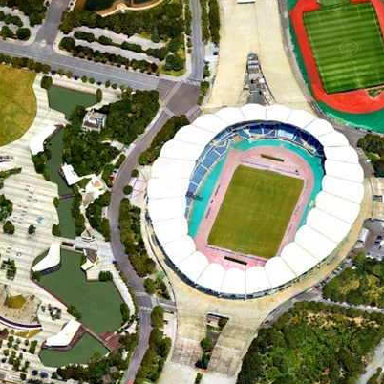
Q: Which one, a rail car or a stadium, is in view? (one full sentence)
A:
Looking from above, you can make out a stadium.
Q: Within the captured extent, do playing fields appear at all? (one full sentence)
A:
Yes, looking at the shot, I can spot a playing field.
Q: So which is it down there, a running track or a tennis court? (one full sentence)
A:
Looking from above, you can make out a running track.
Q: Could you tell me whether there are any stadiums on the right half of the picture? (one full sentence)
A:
Yes, you'll find a stadium on the right half of the picture.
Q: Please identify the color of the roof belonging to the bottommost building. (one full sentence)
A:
The color of the roof on the bottommost building is white.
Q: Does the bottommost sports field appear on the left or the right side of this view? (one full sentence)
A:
The bottommost sports field appears in the right half of the scene.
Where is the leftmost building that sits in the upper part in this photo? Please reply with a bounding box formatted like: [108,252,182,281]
[30,124,63,155]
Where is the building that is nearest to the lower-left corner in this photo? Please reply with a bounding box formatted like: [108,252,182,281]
[41,319,85,351]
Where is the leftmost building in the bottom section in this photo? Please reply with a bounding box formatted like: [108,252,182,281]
[32,243,61,274]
